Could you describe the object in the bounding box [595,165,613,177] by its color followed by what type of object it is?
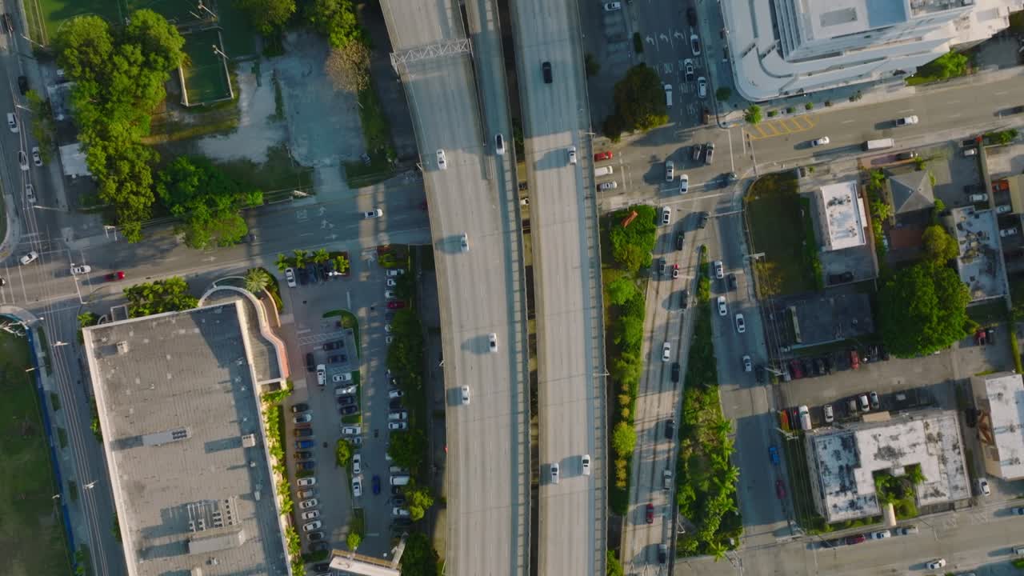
white vehicle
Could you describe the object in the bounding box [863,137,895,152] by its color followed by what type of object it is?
white vehicle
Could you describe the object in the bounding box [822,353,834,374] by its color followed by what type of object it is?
black vehicle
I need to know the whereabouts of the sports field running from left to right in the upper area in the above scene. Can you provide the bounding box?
[46,0,218,50]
